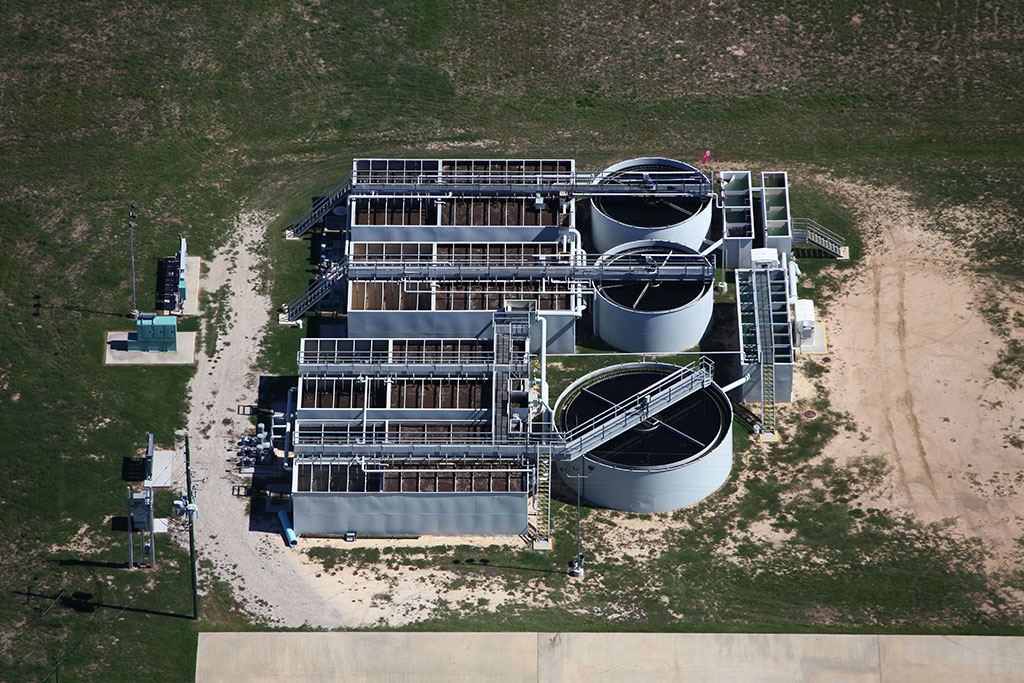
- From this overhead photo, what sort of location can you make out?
industrial area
